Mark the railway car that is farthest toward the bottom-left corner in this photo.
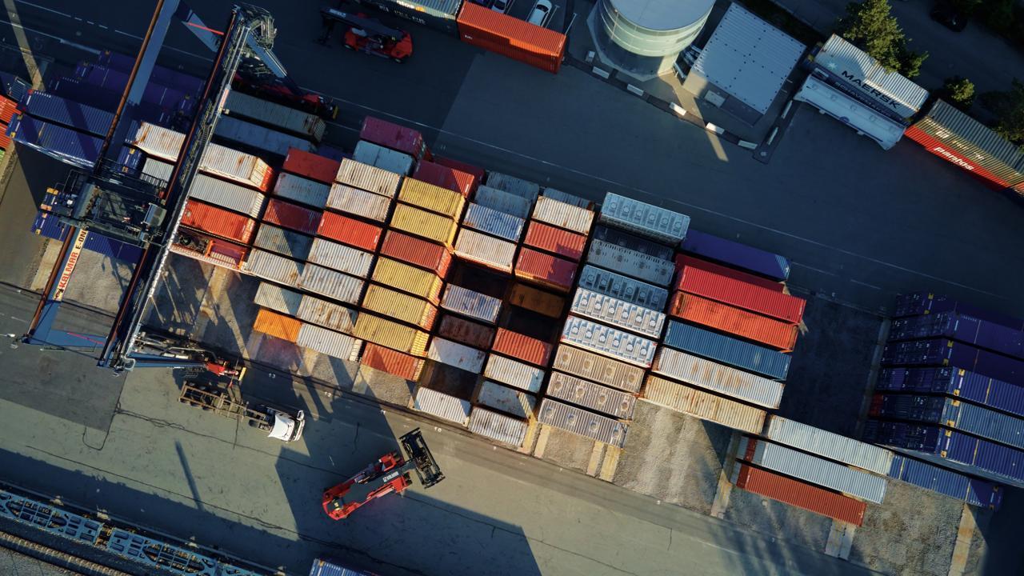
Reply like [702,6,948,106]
[0,489,106,547]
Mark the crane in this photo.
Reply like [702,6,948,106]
[4,0,334,389]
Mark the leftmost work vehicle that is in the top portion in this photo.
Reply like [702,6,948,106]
[300,0,419,68]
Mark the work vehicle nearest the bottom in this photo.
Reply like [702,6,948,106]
[325,428,446,523]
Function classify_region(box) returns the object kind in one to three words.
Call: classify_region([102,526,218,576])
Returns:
rail car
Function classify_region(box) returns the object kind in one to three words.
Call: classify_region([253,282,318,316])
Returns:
shipping container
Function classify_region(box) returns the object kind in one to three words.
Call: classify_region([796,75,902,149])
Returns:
trailer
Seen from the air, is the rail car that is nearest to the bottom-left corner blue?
Yes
